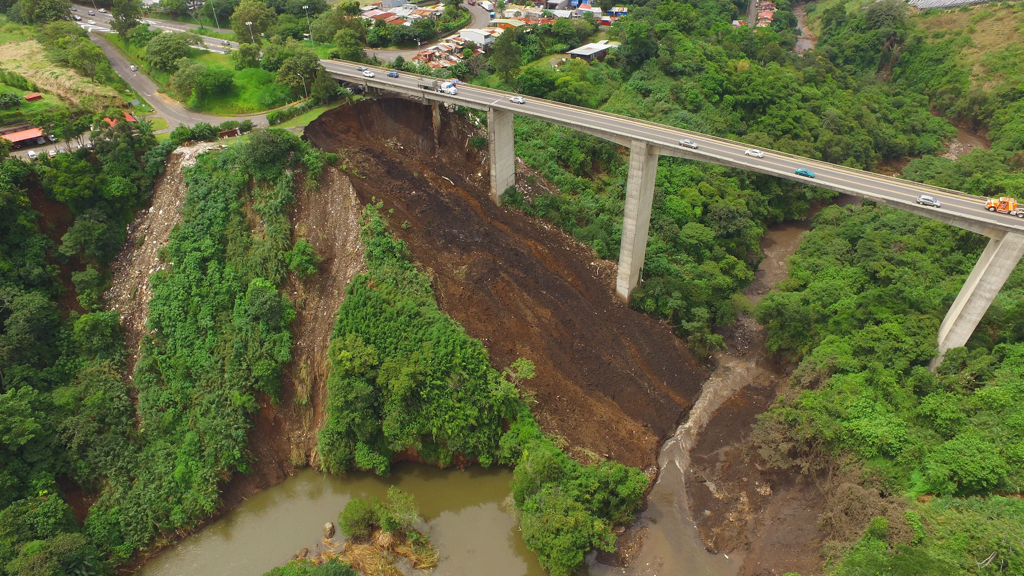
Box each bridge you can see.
[321,61,1024,367]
